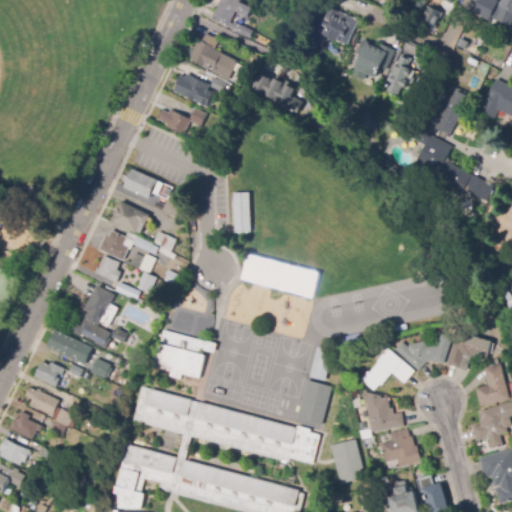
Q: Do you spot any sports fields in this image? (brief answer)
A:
Yes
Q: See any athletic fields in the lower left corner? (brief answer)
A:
No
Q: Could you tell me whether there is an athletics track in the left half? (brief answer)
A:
No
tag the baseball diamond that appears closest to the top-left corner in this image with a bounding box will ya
[0,0,166,186]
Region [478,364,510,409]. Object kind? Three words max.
house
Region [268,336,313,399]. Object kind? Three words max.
basketball court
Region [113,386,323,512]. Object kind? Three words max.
building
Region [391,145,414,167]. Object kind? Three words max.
swimming pool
